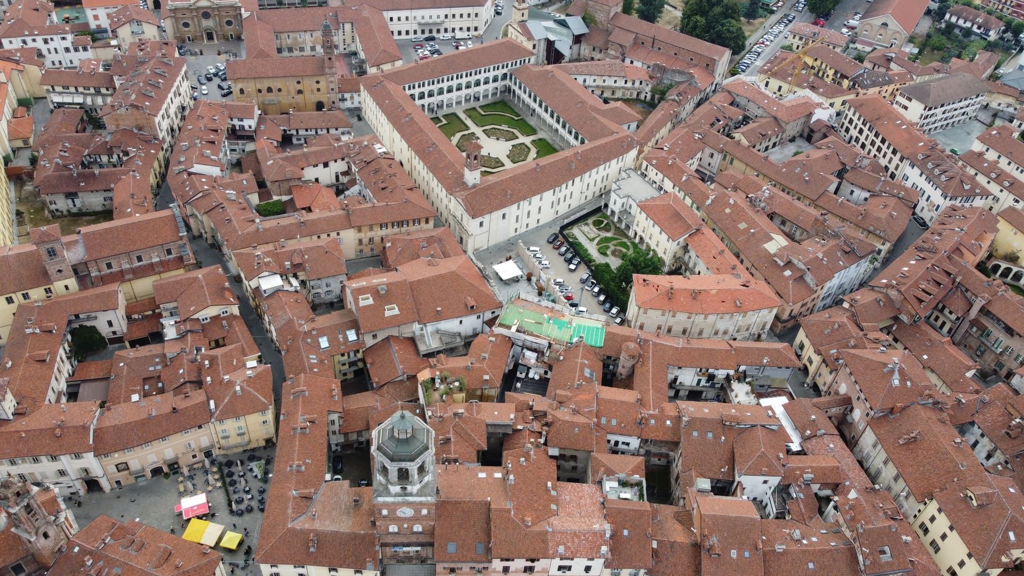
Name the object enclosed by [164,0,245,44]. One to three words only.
building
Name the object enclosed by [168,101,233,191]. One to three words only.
house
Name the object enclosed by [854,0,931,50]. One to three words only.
building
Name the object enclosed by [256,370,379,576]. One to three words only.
house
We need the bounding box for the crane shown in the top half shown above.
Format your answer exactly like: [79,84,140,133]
[734,34,825,84]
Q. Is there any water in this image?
No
